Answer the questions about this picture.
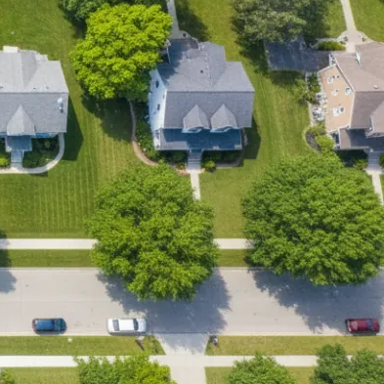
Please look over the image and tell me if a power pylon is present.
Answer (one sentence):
No, there is no power pylon in the image.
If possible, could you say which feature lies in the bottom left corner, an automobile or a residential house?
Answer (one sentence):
Visible in the bottom left corner is an automobile.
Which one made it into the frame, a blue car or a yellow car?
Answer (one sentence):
The one in the frame is a blue car.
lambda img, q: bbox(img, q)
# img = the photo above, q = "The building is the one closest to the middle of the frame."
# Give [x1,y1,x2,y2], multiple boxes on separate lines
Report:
[144,38,254,170]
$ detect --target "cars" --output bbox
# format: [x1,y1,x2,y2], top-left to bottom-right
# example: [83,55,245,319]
[107,318,146,335]
[344,318,379,335]
[31,318,66,335]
